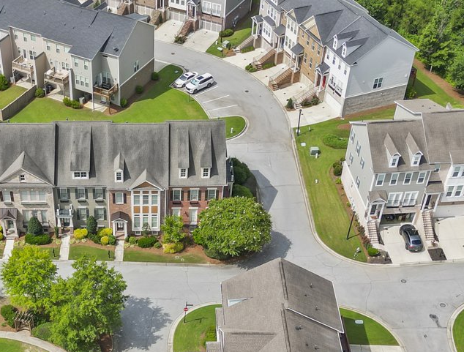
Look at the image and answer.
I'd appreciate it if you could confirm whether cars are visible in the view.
Yes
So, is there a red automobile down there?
No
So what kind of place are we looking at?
residential area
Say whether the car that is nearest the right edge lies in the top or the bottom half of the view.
bottom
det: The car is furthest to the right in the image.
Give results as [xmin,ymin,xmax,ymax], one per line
[401,221,425,247]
